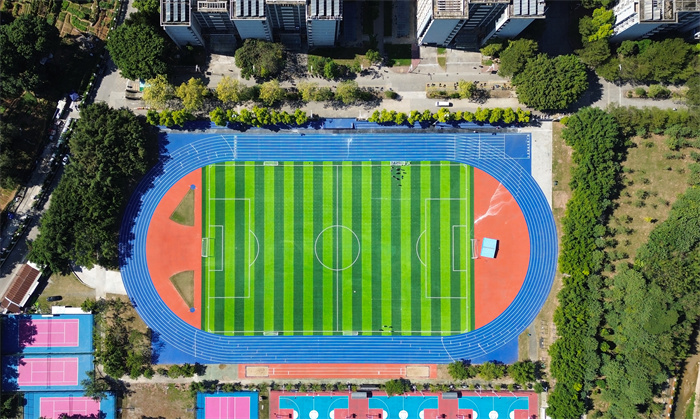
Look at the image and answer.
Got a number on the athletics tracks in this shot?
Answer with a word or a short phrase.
1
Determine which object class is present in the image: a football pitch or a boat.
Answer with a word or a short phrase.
football pitch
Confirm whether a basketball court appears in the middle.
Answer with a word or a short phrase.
No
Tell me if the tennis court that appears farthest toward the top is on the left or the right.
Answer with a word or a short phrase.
left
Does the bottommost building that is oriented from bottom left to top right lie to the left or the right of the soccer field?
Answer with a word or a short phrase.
to the left of it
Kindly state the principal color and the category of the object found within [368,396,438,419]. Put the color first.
blue basketball court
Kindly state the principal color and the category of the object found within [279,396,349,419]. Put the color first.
blue basketball court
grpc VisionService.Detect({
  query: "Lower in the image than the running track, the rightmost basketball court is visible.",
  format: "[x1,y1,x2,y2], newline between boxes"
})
[458,396,528,419]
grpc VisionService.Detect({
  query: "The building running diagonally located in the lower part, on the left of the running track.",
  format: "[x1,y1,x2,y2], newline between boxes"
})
[0,258,50,315]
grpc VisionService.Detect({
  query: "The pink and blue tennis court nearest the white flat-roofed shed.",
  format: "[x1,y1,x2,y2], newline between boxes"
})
[1,314,93,353]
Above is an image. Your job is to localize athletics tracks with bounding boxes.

[120,133,557,364]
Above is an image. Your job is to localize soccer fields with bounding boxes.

[202,161,474,336]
